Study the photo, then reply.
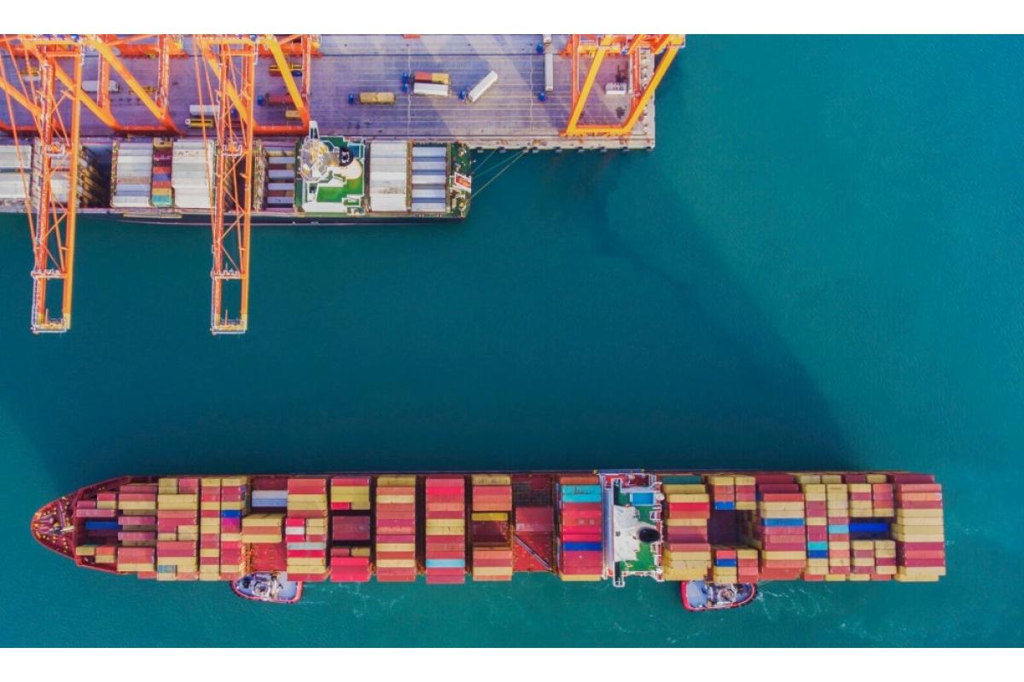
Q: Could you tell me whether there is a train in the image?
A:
No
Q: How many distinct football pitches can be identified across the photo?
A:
zero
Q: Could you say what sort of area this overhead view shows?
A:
port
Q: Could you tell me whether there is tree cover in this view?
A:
No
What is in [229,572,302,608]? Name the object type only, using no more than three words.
boat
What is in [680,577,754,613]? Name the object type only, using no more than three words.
boat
